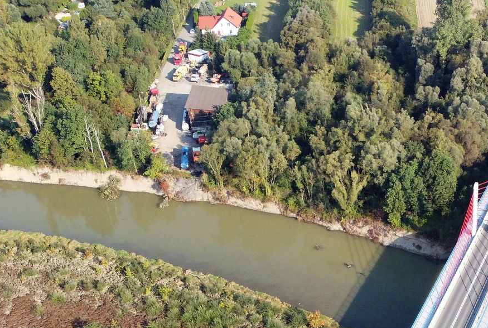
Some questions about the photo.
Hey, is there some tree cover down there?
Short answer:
Yes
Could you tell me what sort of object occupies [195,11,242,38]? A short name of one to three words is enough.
house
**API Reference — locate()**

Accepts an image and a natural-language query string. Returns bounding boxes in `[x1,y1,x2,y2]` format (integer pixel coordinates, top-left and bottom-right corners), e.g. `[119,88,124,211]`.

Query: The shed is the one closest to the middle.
[182,90,228,121]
